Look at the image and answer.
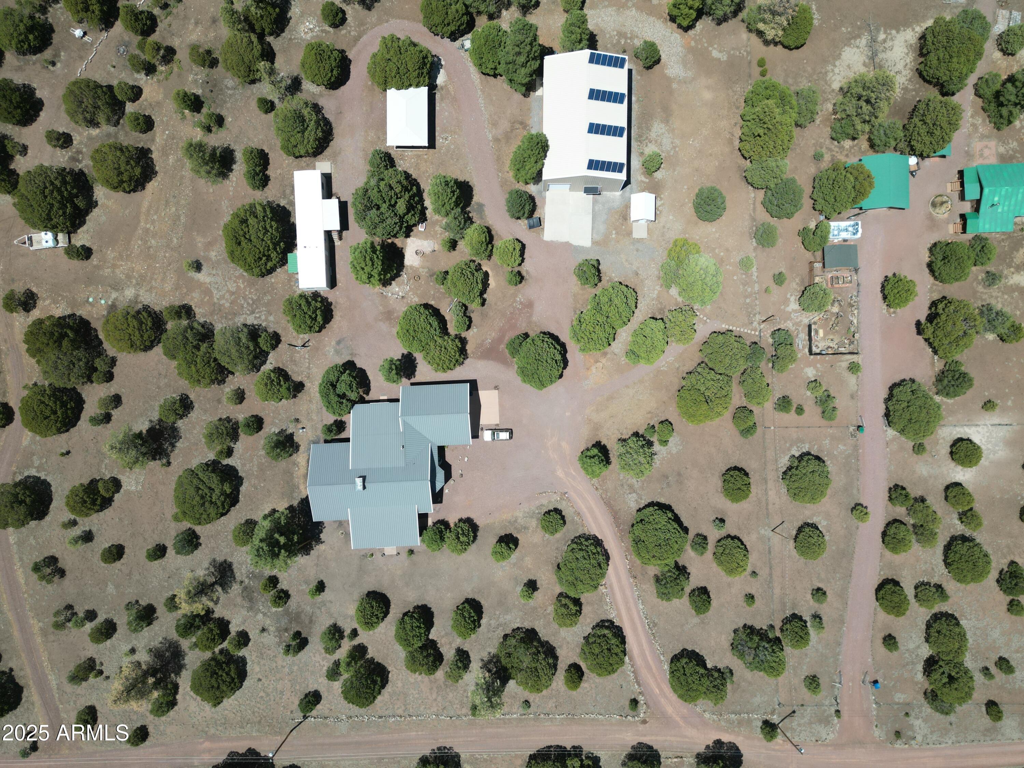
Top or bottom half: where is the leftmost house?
top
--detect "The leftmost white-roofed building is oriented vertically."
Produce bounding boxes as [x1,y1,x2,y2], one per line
[288,170,344,290]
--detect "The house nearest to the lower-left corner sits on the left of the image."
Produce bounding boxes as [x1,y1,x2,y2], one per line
[307,383,472,550]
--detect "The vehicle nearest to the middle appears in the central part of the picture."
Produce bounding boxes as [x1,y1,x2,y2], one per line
[484,430,511,442]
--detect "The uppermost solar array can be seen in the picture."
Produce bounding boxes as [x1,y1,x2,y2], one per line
[589,52,625,69]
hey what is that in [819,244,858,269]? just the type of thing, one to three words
shed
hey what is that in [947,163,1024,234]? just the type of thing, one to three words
house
